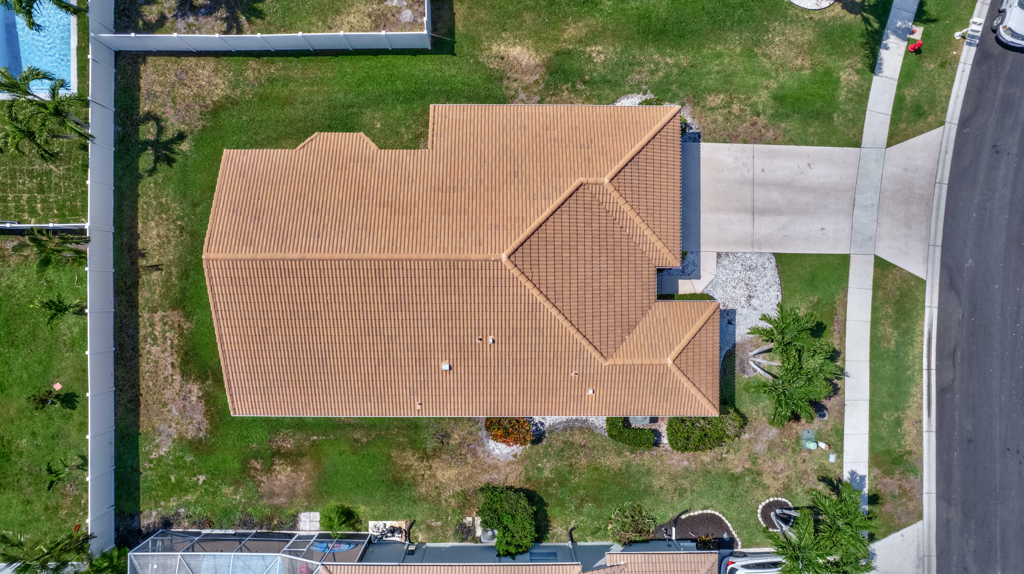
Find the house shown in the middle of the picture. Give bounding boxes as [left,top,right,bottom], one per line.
[199,102,721,417]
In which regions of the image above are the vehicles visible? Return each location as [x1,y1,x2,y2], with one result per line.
[720,550,810,574]
[990,0,1024,56]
